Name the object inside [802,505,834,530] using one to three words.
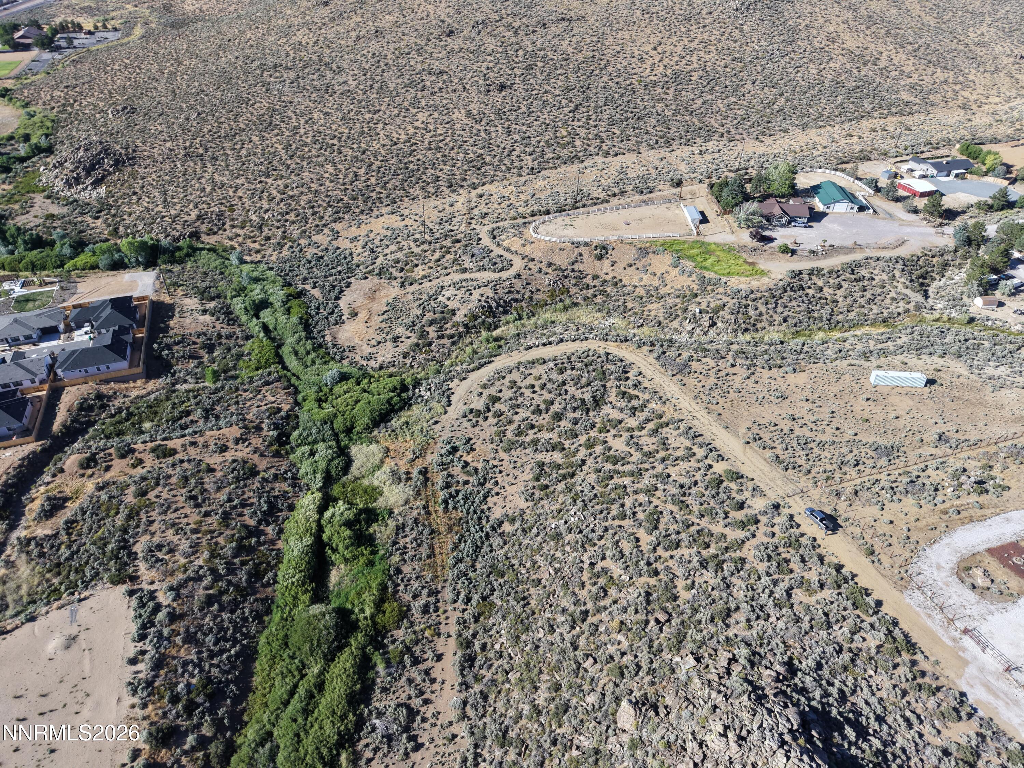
truck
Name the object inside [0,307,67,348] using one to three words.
house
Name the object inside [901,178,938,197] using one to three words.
barn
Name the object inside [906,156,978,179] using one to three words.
house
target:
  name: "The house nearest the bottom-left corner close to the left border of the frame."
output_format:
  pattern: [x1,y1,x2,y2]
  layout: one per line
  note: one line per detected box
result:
[0,388,32,438]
